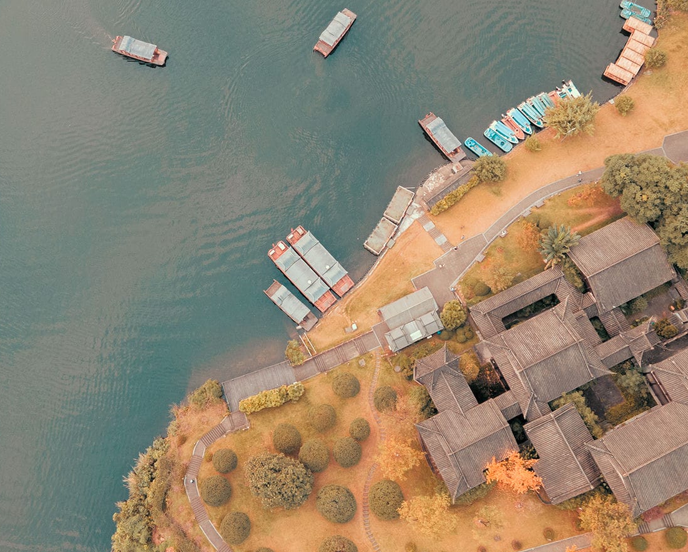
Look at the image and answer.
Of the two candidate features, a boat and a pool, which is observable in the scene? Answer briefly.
boat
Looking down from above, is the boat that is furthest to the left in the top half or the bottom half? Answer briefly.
top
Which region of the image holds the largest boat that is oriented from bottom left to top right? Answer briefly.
top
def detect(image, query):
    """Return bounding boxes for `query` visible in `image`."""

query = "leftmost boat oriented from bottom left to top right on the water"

[314,9,353,55]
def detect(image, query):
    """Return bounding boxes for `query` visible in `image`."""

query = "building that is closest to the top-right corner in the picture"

[566,217,675,313]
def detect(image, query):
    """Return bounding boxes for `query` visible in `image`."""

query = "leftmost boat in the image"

[110,33,168,63]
